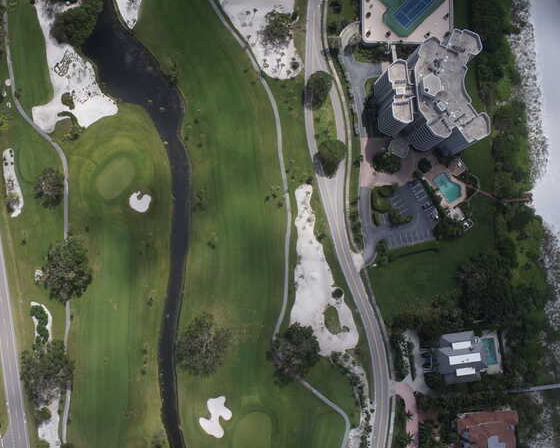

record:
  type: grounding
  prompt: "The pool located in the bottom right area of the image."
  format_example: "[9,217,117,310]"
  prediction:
[479,330,502,374]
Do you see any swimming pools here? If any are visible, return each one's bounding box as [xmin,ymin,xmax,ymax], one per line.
[424,169,465,207]
[479,330,502,374]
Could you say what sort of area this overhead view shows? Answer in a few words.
golf course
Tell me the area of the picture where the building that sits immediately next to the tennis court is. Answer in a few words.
top right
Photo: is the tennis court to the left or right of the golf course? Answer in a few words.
to the right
